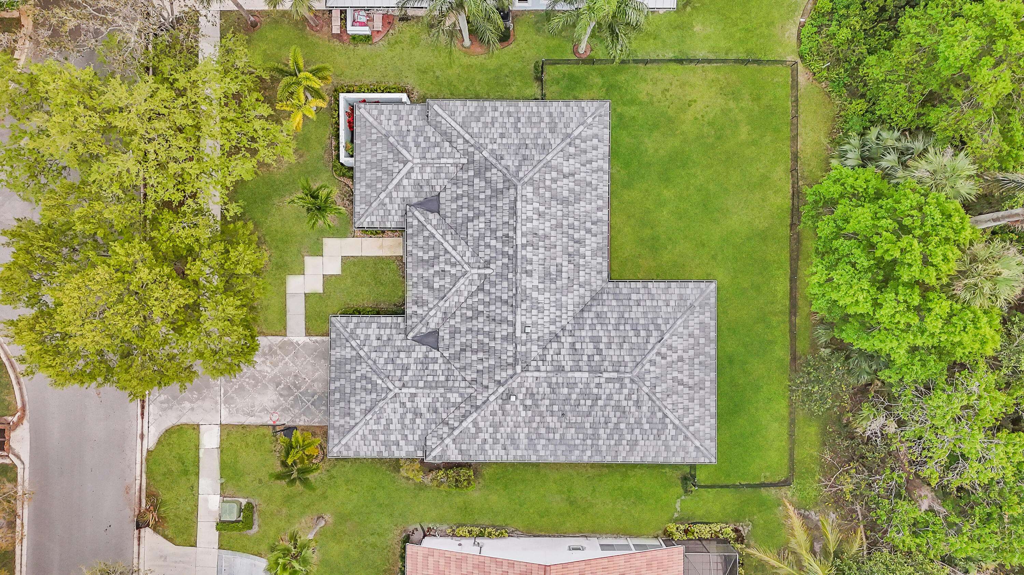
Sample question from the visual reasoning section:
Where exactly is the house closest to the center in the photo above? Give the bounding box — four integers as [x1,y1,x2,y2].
[329,100,716,464]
